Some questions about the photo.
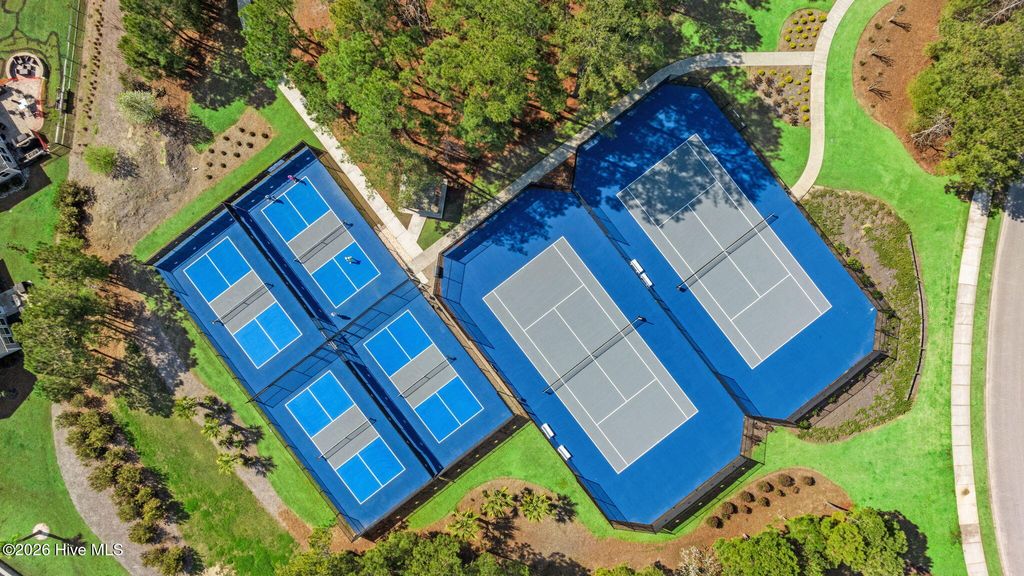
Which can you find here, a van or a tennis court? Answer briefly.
tennis court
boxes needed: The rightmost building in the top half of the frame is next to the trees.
[403,173,447,218]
